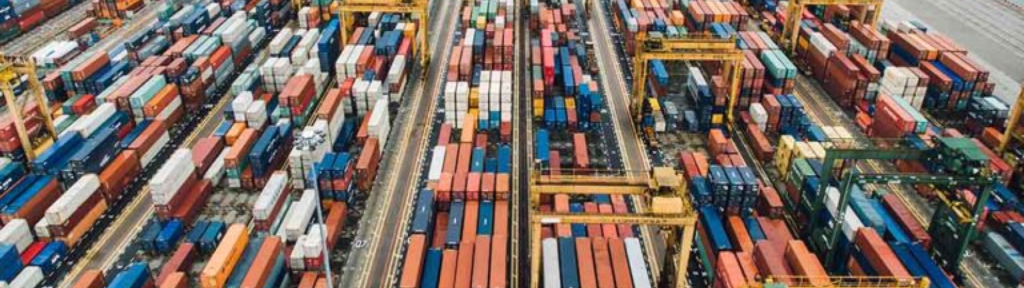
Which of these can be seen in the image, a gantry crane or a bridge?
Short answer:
gantry crane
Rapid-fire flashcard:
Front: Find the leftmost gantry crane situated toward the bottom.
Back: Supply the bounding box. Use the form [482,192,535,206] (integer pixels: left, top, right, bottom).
[529,166,694,288]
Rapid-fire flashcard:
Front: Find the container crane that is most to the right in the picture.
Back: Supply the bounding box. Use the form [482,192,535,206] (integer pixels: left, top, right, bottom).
[1002,95,1024,193]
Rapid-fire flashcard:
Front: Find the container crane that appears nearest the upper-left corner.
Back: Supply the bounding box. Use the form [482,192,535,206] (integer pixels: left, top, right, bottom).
[0,53,60,150]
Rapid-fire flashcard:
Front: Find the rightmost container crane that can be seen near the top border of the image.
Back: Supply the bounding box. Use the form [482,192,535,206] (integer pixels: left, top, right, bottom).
[780,0,886,63]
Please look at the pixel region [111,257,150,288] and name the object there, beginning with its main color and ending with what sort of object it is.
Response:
blue shipping container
